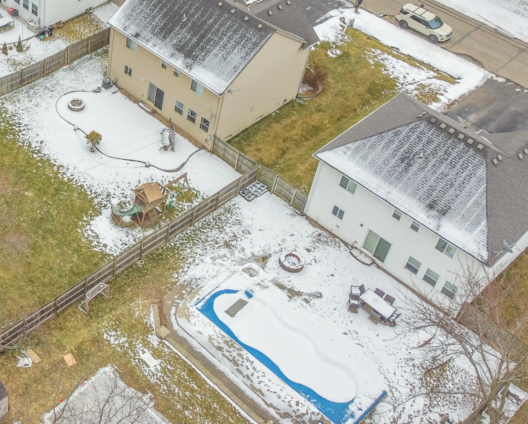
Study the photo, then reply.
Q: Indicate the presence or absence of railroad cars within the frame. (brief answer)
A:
No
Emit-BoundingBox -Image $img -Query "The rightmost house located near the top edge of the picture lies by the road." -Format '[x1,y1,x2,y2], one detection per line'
[106,0,325,153]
